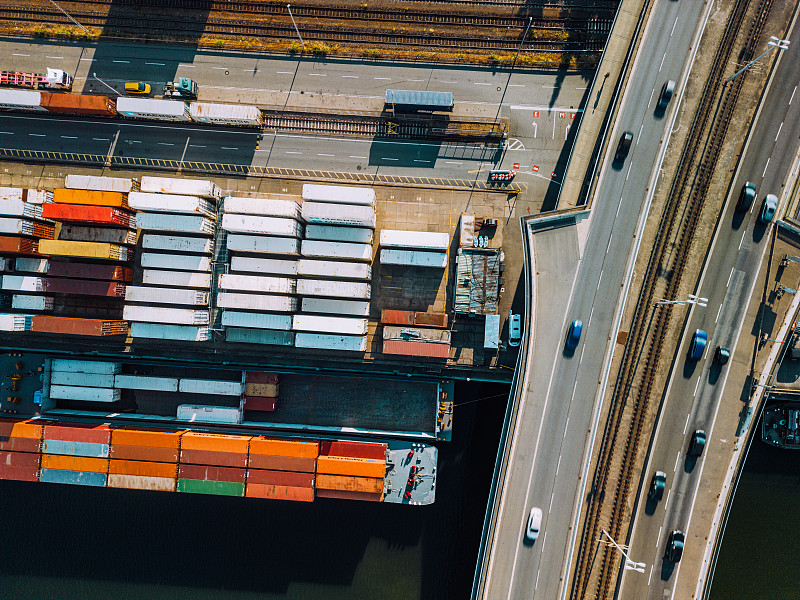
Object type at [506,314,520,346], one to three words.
vehicle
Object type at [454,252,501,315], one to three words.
shed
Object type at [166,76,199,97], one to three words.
truck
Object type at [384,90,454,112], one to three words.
trailer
